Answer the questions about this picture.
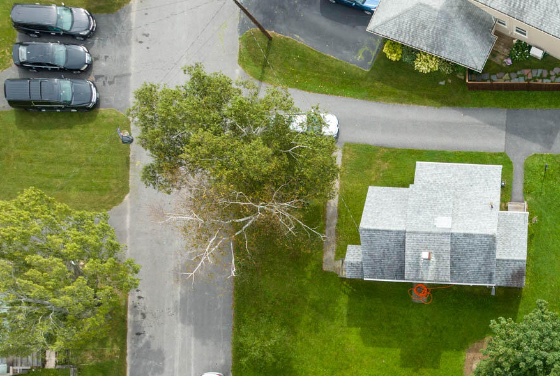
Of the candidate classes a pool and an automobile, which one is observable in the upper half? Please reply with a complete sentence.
What appears in the upper half is an automobile.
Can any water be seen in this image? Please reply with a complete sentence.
No, water can't be seen anywhere here.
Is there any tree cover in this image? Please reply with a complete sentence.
Yes, tree cover can be seen from above here.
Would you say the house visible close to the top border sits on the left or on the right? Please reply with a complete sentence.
You can find the house visible close to the top border on the right side of the picture.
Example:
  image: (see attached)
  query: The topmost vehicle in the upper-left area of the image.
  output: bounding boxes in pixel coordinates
[7,4,97,44]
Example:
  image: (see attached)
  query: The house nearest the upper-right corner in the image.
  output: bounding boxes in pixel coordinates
[366,0,560,80]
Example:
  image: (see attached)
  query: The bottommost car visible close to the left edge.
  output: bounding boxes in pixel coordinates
[0,75,99,114]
